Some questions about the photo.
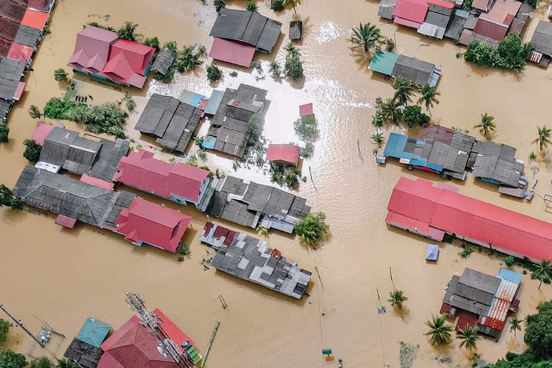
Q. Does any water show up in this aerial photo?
Yes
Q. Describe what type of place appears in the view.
residential area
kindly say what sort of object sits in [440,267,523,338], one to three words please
house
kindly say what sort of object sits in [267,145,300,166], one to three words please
house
